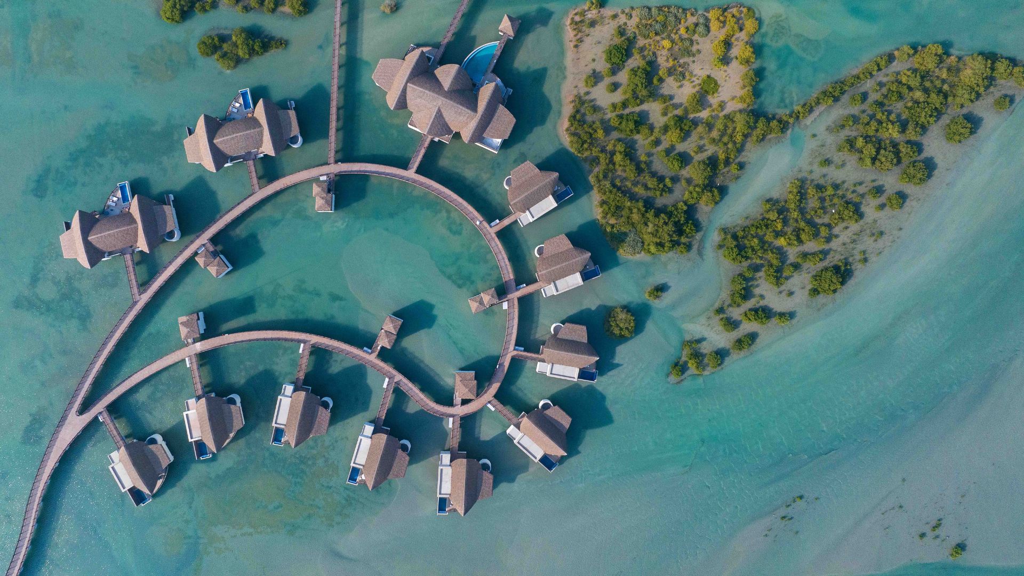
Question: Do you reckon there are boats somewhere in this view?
No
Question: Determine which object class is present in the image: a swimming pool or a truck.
swimming pool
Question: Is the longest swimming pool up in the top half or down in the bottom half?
top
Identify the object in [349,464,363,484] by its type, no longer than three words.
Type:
swimming pool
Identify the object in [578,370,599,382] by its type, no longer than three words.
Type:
swimming pool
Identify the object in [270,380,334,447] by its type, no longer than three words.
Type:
house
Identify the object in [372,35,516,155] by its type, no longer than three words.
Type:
building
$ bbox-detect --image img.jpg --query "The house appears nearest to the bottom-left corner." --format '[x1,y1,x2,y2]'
[108,433,179,508]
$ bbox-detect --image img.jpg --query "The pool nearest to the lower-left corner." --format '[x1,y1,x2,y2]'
[131,485,153,506]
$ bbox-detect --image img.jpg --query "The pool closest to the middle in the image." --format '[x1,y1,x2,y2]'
[581,266,603,284]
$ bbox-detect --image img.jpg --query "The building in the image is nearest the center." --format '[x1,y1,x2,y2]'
[468,288,498,313]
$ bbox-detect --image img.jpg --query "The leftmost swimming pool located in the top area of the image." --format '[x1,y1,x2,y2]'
[118,182,134,205]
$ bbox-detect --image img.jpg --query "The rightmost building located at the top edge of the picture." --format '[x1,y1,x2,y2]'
[499,14,521,42]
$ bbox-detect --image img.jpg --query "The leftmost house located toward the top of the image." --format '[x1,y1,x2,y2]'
[62,186,183,268]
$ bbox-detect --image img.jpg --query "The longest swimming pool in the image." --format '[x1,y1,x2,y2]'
[461,41,500,87]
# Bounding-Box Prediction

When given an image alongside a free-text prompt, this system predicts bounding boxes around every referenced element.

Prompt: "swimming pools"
[554,187,575,206]
[239,89,255,111]
[578,370,599,382]
[438,495,450,513]
[581,266,603,284]
[273,425,286,445]
[196,437,213,458]
[461,41,500,87]
[118,182,134,205]
[349,464,363,484]
[538,453,560,473]
[131,485,153,506]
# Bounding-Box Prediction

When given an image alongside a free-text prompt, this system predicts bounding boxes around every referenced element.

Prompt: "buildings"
[270,380,334,447]
[506,400,571,475]
[378,314,404,349]
[62,186,183,268]
[195,249,235,278]
[535,324,599,384]
[454,370,477,404]
[468,288,498,313]
[346,420,412,489]
[372,35,516,155]
[534,236,604,299]
[108,433,179,508]
[313,182,336,212]
[185,391,249,459]
[185,92,304,172]
[437,448,493,515]
[504,164,577,229]
[178,312,207,341]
